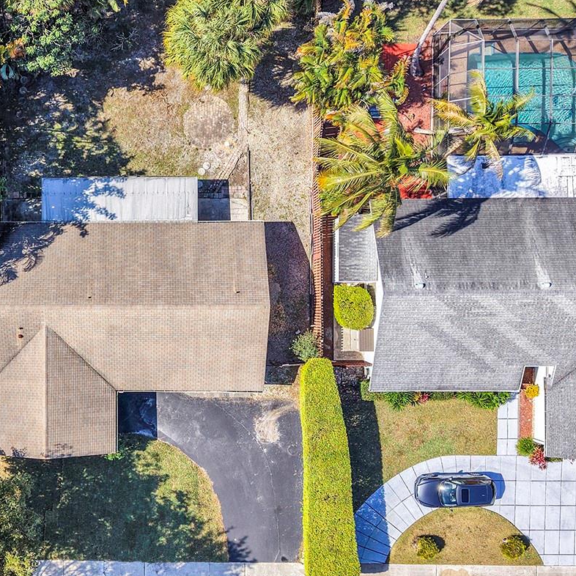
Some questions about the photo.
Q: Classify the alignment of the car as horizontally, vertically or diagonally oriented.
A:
horizontally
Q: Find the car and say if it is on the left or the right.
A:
right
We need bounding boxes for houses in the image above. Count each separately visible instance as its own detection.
[369,155,576,462]
[0,221,269,458]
